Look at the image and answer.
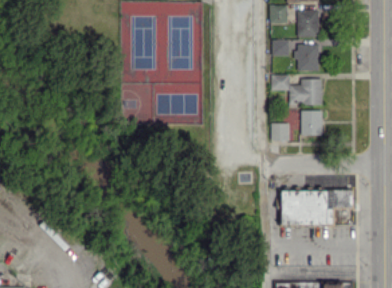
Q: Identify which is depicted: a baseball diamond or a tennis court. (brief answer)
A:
tennis court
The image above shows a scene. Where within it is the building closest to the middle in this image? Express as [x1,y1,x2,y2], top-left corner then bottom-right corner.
[272,122,290,142]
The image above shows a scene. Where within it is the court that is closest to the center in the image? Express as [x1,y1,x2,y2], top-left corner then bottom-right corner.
[152,82,202,124]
